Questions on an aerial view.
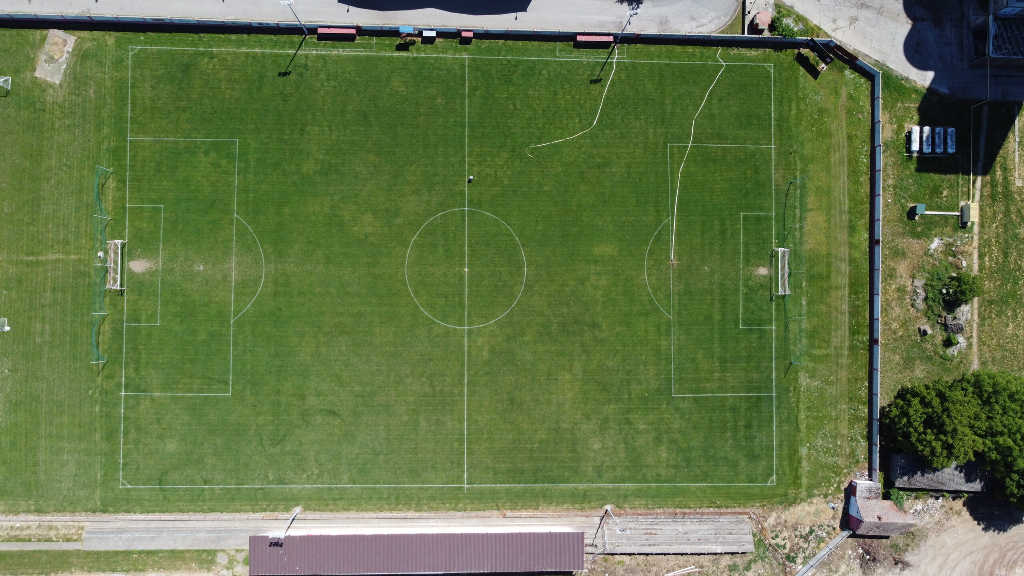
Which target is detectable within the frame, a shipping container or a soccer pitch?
soccer pitch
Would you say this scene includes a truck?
No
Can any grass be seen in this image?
Yes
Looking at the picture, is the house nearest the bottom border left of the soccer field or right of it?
right of it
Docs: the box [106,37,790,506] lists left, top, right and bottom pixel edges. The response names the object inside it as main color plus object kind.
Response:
green soccer field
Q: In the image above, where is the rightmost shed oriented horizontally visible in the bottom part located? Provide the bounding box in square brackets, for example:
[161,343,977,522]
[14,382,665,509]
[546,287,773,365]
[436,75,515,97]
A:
[885,449,992,492]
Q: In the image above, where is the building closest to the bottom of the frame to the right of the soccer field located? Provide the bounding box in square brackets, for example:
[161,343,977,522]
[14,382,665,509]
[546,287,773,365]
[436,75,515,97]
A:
[848,479,917,535]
